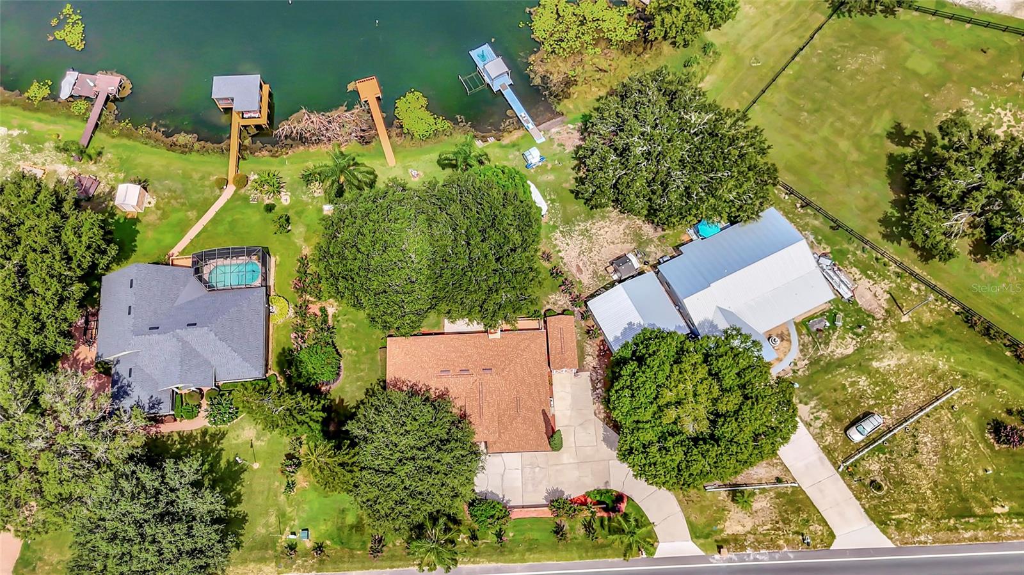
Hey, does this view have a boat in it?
Yes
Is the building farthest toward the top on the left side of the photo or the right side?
left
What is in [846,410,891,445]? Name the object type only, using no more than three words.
car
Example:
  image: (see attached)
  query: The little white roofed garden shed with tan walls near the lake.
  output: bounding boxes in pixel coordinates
[113,181,150,223]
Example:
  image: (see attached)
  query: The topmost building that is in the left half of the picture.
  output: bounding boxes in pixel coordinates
[212,74,272,187]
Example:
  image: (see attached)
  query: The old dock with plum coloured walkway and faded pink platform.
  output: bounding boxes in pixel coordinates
[72,73,126,145]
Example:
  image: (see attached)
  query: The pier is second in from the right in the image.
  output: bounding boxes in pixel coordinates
[355,72,396,167]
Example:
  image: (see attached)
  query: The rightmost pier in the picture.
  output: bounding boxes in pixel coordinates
[468,42,546,144]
